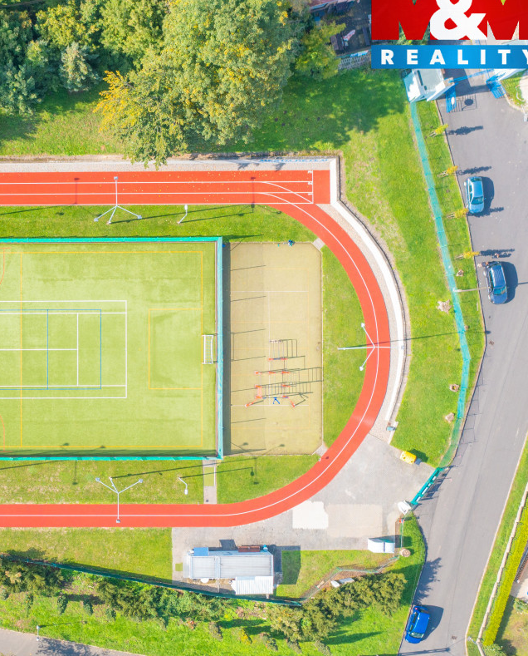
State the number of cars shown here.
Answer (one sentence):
I count 3 cars.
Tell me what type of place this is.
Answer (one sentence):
This image shows a sports ground.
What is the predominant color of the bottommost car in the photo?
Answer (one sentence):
In this view, the bottommost car is blue.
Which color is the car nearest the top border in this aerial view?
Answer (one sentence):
From above, the car nearest the top border appears blue.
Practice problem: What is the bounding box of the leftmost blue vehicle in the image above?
[403,605,430,642]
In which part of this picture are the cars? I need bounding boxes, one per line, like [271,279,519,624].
[482,262,508,305]
[464,175,486,215]
[403,605,430,642]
